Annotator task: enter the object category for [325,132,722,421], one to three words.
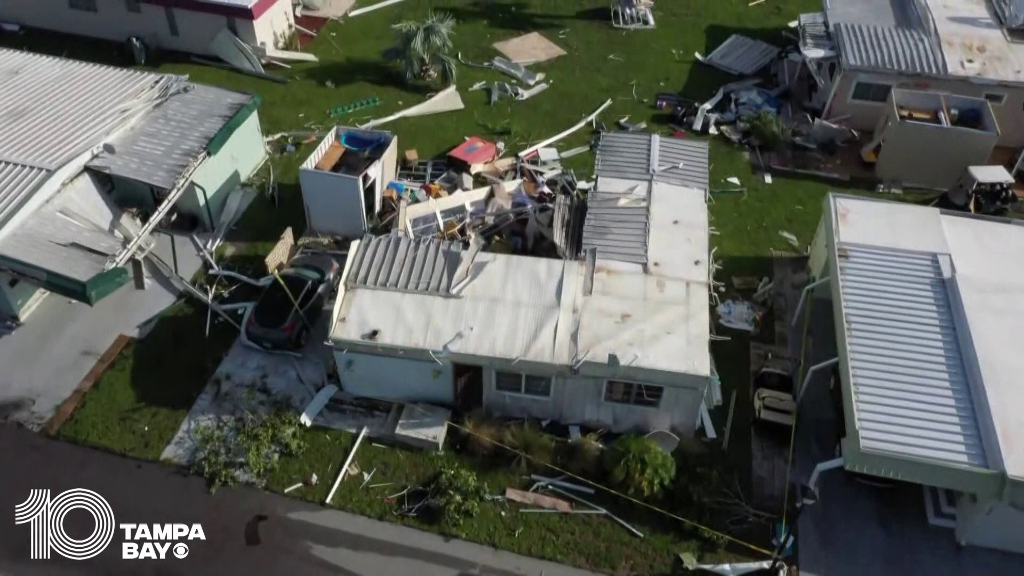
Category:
house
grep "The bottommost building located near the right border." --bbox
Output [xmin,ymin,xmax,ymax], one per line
[791,187,1024,550]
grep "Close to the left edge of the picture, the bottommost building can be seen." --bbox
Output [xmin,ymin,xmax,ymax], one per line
[0,47,276,300]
